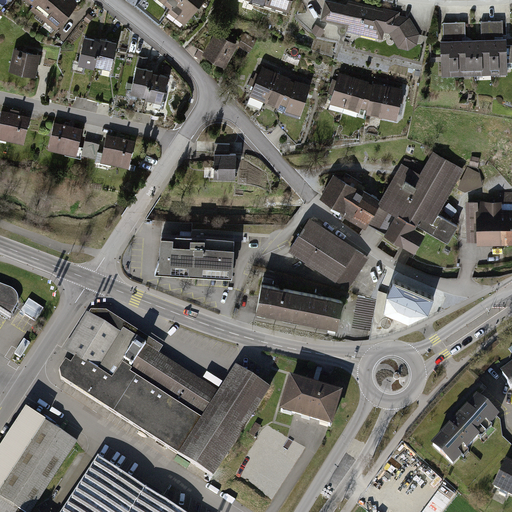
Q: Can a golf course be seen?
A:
No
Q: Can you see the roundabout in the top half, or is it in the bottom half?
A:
bottom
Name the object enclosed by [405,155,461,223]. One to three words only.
barn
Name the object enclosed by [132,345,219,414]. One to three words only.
building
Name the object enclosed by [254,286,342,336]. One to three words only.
building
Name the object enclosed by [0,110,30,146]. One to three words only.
house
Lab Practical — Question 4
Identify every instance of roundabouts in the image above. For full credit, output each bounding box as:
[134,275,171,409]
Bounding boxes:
[358,342,425,408]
